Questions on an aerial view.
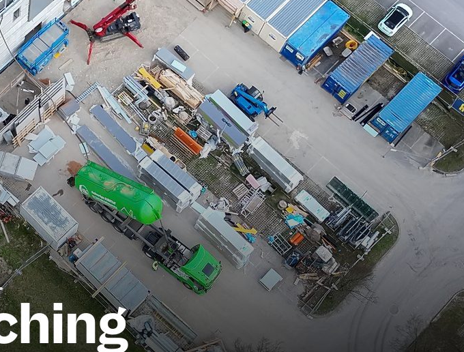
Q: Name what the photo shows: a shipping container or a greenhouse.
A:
shipping container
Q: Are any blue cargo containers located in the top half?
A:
Yes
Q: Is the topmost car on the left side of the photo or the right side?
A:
right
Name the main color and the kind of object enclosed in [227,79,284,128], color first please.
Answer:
blue work vehicle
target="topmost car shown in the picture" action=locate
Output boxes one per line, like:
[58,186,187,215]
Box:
[378,0,416,38]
